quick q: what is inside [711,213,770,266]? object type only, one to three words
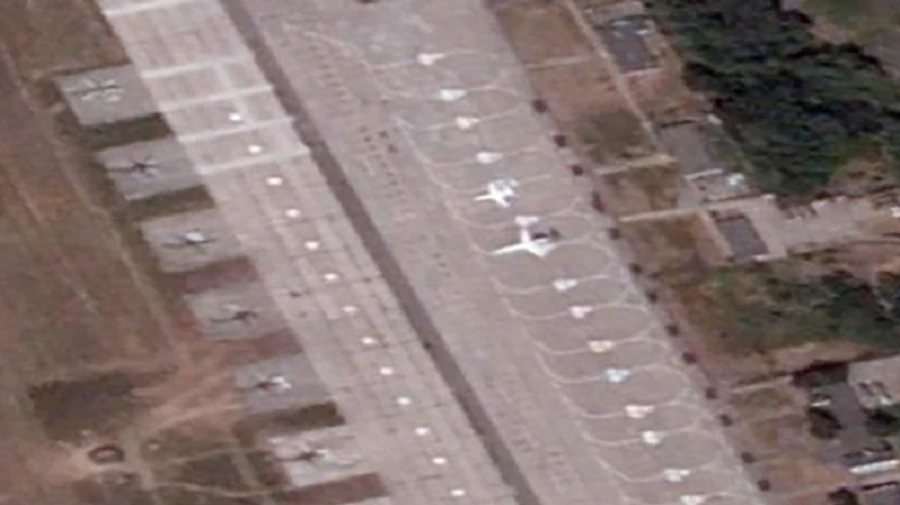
building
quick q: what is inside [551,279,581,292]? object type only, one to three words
airplane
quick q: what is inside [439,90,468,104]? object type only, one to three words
airplane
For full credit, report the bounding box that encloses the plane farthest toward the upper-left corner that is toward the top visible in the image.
[415,53,444,67]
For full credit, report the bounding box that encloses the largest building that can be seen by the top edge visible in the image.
[603,17,657,79]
